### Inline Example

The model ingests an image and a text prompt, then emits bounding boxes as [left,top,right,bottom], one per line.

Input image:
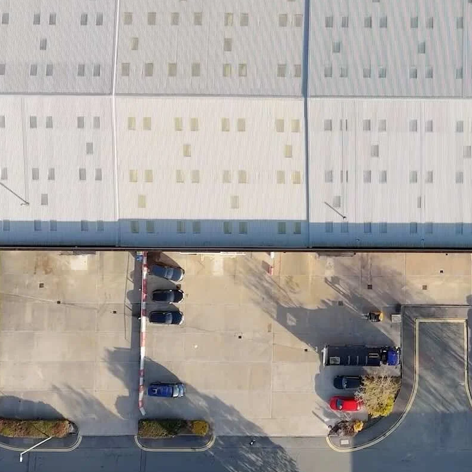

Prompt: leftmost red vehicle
[332,397,362,411]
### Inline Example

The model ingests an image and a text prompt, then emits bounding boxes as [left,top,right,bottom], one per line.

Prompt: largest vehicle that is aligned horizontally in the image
[323,346,401,369]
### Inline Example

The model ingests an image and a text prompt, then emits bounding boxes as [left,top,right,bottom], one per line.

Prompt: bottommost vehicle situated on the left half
[146,381,185,398]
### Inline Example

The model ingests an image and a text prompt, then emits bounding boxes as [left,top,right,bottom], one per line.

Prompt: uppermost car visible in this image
[150,263,185,281]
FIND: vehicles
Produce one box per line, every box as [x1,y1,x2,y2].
[152,288,184,304]
[332,397,362,411]
[149,309,184,325]
[146,381,185,398]
[359,312,383,322]
[150,263,185,281]
[323,346,401,369]
[334,376,369,391]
